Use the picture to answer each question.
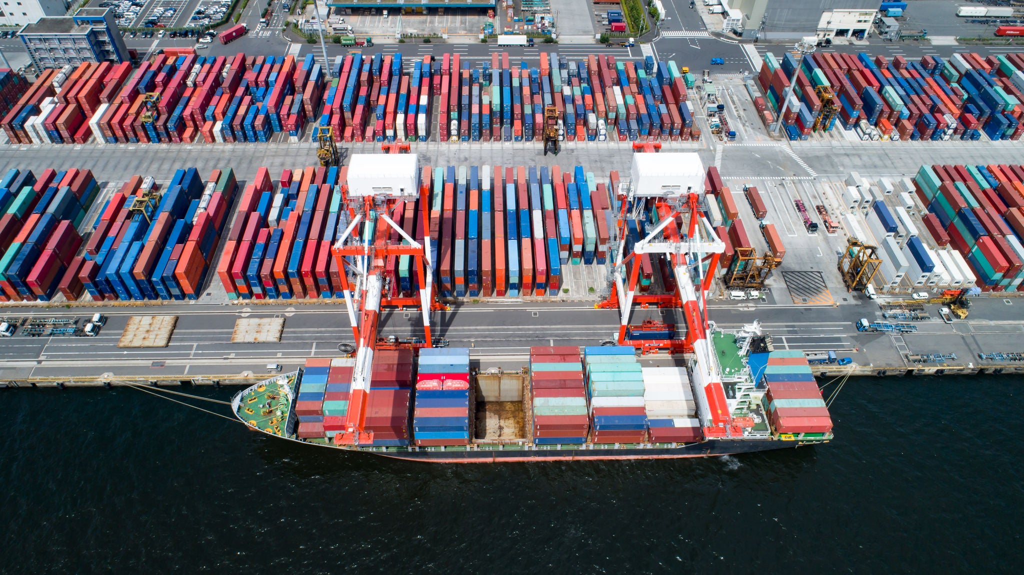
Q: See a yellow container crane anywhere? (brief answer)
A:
No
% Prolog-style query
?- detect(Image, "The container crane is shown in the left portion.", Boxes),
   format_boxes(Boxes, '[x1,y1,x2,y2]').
[330,141,449,456]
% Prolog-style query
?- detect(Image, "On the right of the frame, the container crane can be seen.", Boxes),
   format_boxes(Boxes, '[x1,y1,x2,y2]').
[596,140,746,449]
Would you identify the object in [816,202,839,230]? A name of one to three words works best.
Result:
truck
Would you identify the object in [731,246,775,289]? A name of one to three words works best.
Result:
work vehicle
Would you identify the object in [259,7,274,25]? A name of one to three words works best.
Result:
vehicle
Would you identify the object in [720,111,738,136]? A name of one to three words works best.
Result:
vehicle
